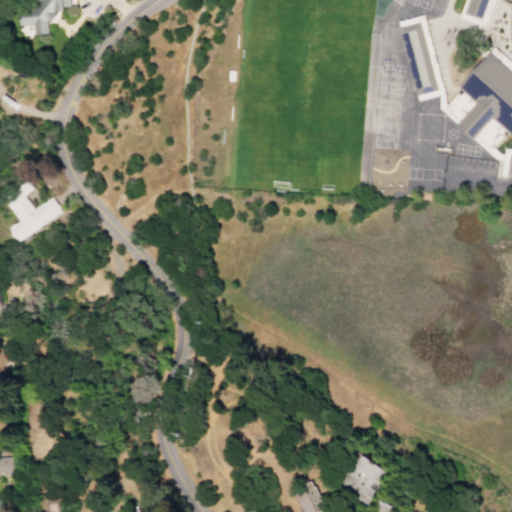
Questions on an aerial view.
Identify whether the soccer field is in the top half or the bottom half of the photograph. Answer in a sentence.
The top half of the photo is where the soccer field is.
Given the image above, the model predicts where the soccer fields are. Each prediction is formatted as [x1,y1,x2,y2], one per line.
[235,0,376,188]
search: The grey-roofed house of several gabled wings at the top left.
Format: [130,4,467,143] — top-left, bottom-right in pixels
[19,0,62,34]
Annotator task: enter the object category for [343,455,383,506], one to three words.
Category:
house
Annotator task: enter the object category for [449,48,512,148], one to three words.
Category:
building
